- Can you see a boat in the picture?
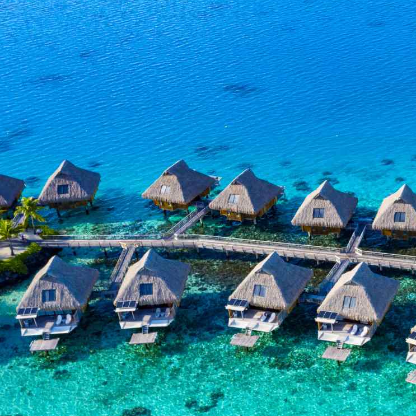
No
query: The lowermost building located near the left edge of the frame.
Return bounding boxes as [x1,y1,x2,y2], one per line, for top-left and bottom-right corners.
[14,255,98,345]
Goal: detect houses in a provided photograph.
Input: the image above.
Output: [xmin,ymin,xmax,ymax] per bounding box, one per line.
[112,249,189,338]
[210,168,289,235]
[38,160,103,227]
[373,184,416,250]
[143,159,223,222]
[14,255,98,345]
[314,261,397,354]
[224,250,311,342]
[293,181,357,248]
[0,176,28,220]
